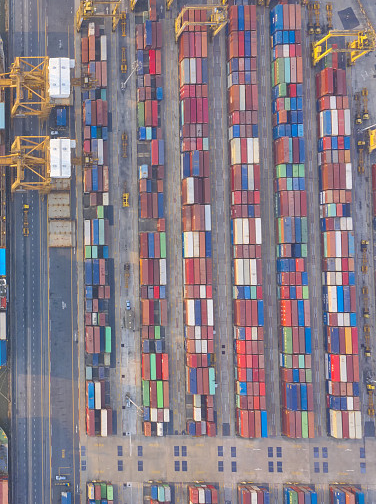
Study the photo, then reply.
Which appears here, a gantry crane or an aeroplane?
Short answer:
gantry crane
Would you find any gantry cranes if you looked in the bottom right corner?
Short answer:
No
